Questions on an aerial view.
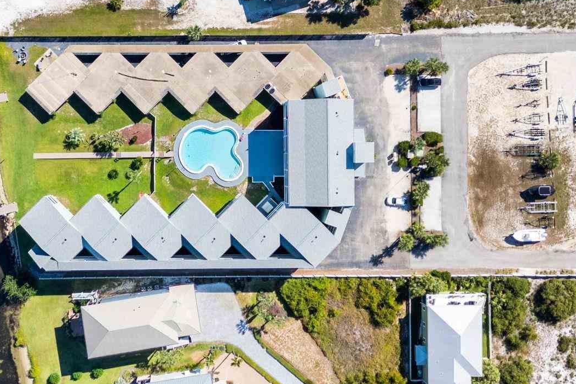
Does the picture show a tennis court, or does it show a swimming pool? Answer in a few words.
swimming pool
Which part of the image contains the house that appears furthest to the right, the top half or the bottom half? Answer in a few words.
bottom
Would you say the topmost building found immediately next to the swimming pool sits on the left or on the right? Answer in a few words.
left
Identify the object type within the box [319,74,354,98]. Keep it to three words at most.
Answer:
house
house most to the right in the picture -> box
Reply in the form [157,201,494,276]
[415,289,488,384]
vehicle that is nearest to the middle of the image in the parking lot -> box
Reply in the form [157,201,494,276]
[387,196,411,208]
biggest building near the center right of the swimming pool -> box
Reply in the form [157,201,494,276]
[283,98,375,210]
